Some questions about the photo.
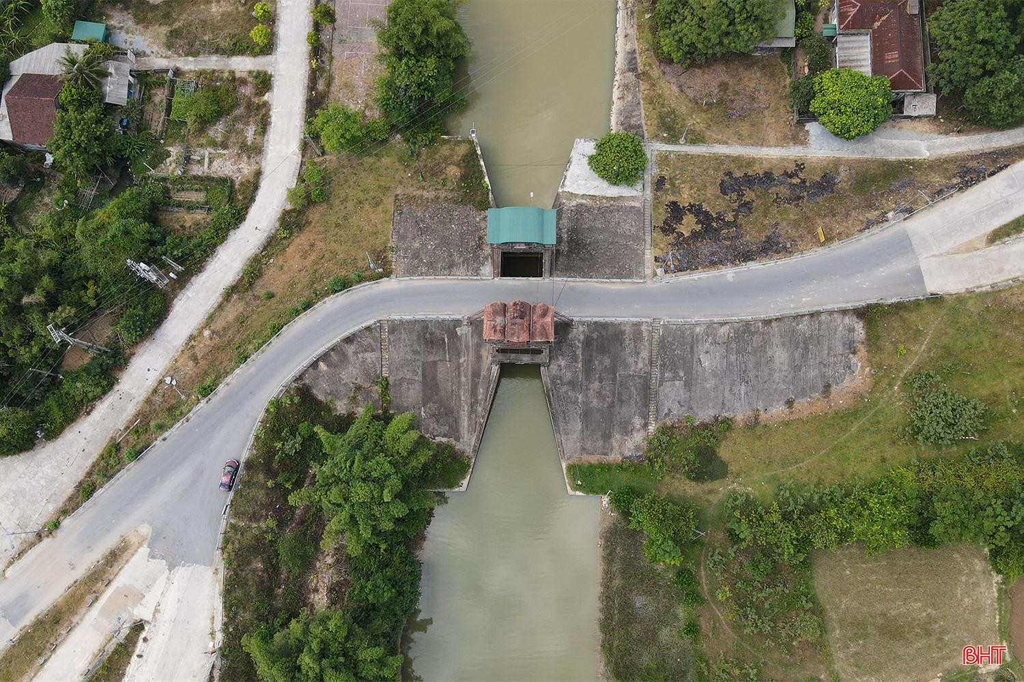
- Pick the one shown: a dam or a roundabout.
dam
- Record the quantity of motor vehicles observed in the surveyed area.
one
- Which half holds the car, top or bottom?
bottom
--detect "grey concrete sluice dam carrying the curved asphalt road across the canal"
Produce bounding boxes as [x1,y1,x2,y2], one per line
[280,128,864,496]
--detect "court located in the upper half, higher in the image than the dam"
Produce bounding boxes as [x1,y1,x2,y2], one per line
[329,0,389,104]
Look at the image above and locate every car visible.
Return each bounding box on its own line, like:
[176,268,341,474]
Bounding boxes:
[216,457,237,493]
